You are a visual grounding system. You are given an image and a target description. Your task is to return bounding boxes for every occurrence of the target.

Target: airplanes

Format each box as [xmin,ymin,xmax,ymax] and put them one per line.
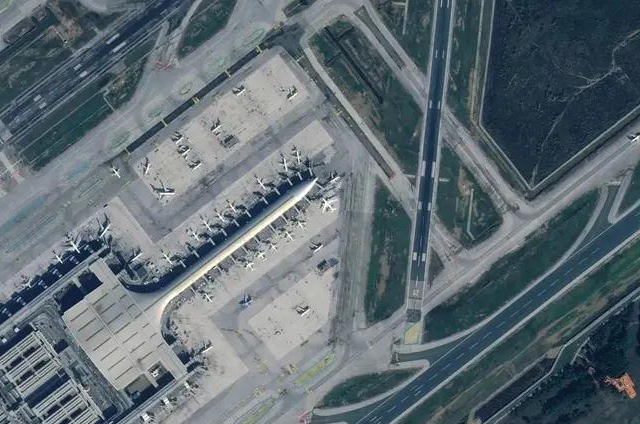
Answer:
[190,229,200,241]
[202,344,215,353]
[159,185,176,201]
[241,297,254,305]
[192,162,204,170]
[245,261,256,272]
[23,275,33,287]
[131,251,143,261]
[181,146,193,155]
[236,86,248,96]
[286,230,296,242]
[64,234,80,252]
[301,307,313,316]
[323,196,339,213]
[214,210,224,221]
[143,162,154,175]
[202,219,212,230]
[101,223,114,237]
[52,252,63,263]
[110,166,120,177]
[292,149,304,162]
[174,134,187,144]
[280,158,291,170]
[256,178,266,189]
[212,123,224,132]
[329,174,341,183]
[270,242,279,253]
[313,243,325,252]
[288,90,300,100]
[227,201,237,213]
